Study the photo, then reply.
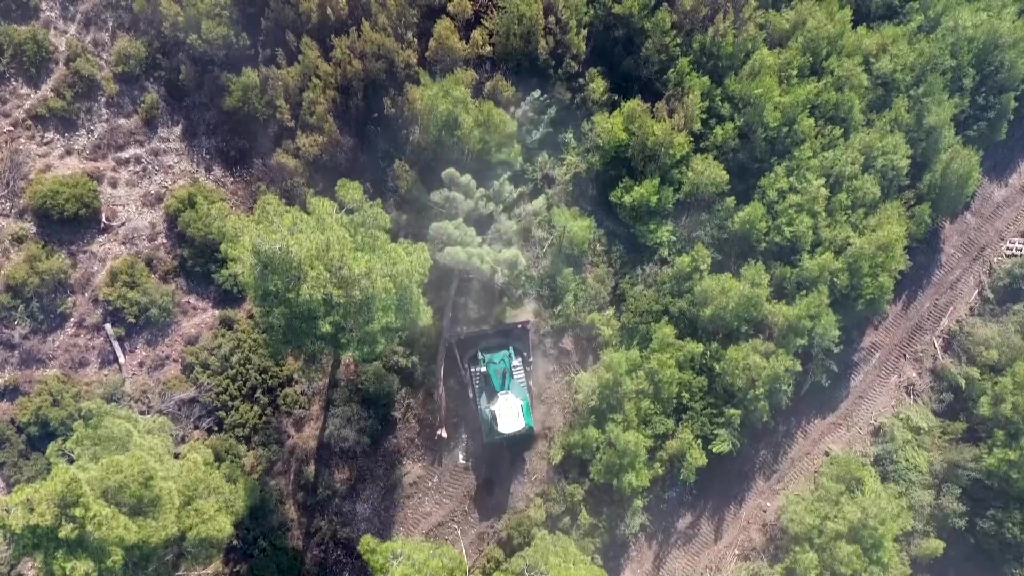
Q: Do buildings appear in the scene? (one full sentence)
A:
No, there isn't any building down there.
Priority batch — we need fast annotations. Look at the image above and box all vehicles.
[456,315,544,453]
